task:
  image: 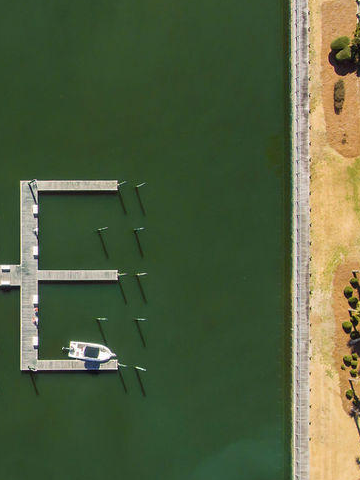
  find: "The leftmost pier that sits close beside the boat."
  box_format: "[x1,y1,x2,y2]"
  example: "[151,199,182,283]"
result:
[20,180,38,370]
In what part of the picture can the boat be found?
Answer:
bottom left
